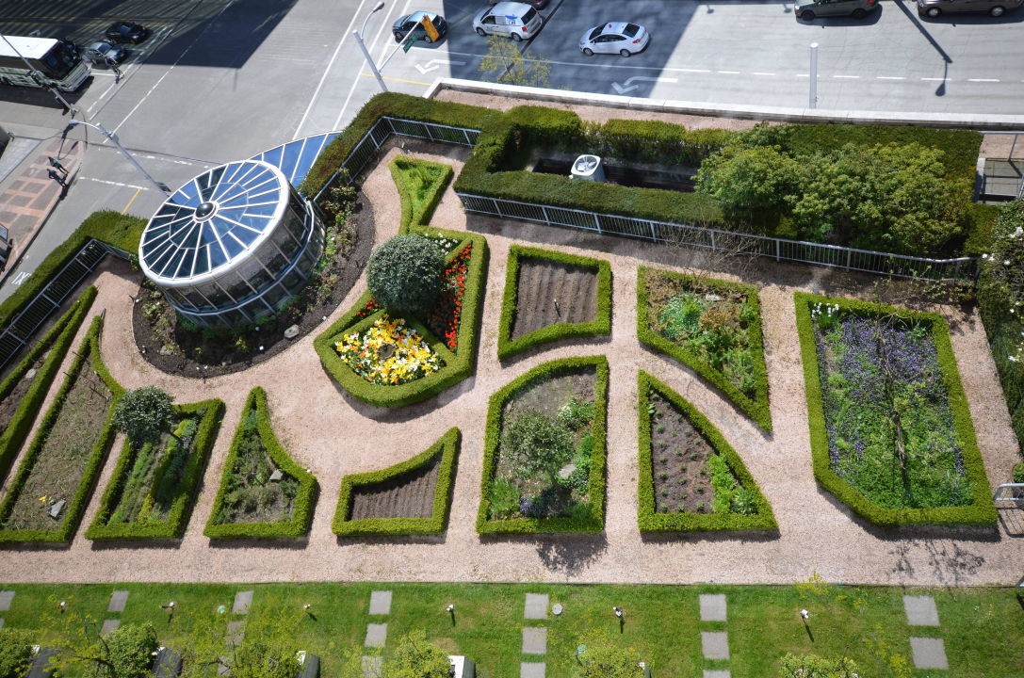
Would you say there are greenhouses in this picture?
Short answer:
Yes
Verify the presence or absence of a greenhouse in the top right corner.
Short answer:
No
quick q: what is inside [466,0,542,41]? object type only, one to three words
vehicle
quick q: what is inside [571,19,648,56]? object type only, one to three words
car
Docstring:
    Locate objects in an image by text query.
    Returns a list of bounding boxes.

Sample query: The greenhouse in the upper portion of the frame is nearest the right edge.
[141,156,325,329]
